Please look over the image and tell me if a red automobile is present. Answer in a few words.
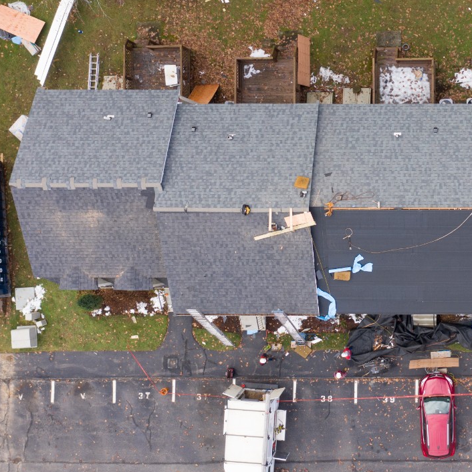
Yes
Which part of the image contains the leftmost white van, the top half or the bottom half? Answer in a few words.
bottom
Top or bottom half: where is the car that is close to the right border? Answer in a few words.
bottom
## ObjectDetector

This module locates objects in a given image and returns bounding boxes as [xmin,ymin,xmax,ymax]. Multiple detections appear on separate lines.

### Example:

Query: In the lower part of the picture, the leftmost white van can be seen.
[217,385,290,472]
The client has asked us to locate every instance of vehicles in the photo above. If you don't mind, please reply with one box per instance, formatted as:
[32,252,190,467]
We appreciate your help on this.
[217,385,290,472]
[416,370,459,457]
